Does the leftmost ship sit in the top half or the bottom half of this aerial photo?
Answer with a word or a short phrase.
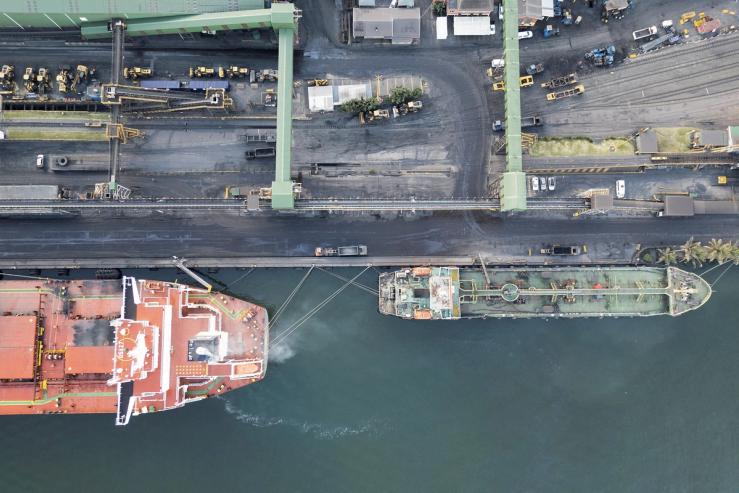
bottom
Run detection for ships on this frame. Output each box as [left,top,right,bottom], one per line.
[0,276,270,424]
[377,266,712,319]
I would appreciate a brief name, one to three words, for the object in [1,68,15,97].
work vehicle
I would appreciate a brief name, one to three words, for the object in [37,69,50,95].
vehicle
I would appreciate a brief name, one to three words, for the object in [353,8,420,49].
building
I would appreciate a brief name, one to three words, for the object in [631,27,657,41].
vehicle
